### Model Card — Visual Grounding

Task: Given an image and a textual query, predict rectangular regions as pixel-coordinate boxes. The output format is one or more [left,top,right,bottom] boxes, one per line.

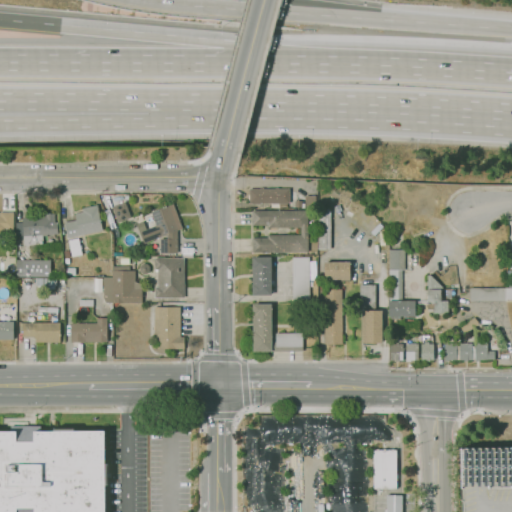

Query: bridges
[210,0,282,193]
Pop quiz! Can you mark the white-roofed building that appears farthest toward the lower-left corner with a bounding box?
[0,426,106,512]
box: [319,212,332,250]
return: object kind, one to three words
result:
shed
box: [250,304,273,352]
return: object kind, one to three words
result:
building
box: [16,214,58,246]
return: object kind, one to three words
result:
house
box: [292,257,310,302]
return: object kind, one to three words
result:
building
